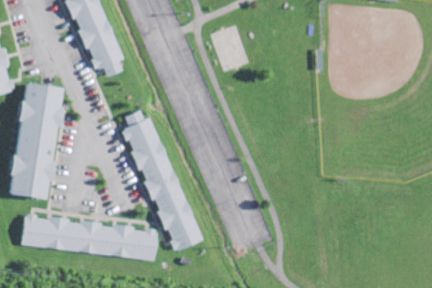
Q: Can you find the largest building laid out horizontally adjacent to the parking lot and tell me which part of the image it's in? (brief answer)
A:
bottom left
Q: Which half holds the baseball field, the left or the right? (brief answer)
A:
right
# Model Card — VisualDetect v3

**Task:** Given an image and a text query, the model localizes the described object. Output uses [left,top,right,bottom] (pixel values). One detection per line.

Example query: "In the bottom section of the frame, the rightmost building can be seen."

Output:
[123,117,203,252]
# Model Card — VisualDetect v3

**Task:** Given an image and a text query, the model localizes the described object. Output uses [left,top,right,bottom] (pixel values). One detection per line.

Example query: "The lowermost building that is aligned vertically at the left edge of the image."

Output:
[10,82,62,200]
